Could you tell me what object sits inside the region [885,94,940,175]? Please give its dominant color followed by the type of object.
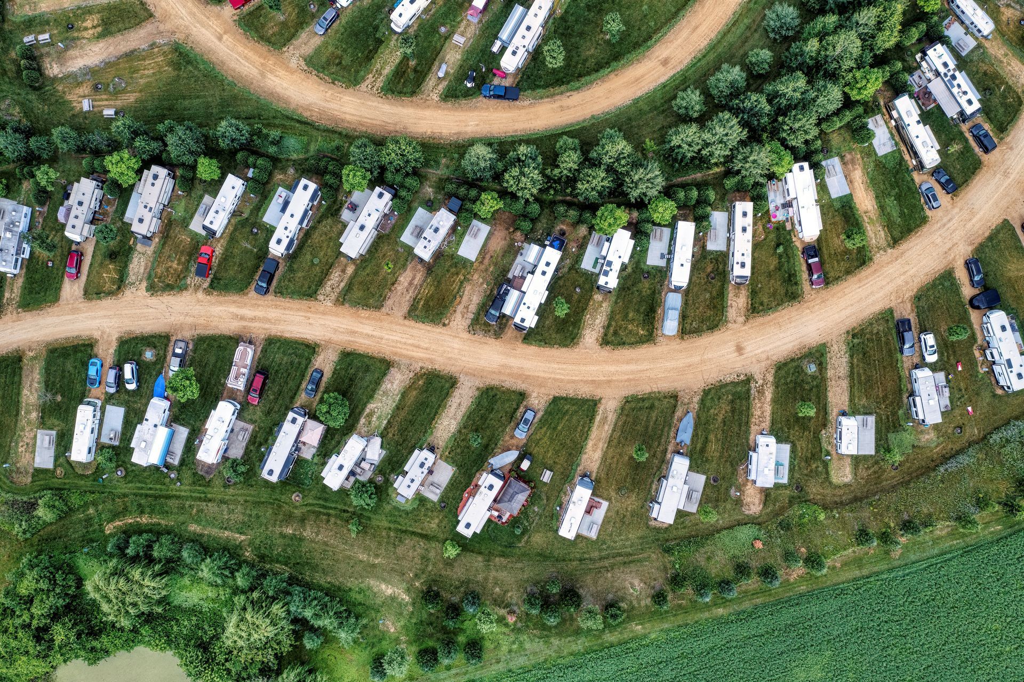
white camper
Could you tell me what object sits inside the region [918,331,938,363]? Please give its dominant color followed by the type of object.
white car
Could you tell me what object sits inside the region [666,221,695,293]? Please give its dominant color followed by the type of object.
white vehicle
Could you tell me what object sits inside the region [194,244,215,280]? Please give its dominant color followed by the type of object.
red truck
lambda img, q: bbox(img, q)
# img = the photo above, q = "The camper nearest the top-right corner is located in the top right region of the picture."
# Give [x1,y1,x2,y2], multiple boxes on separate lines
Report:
[943,0,994,46]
